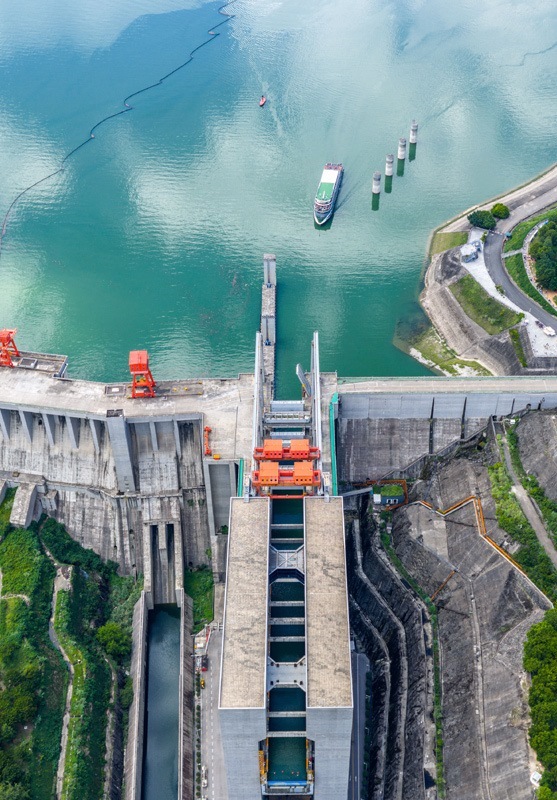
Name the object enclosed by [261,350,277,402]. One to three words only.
pier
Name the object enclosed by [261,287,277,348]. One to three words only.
pier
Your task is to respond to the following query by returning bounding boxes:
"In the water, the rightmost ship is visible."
[314,157,341,224]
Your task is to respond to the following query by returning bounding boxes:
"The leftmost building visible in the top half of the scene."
[458,239,484,263]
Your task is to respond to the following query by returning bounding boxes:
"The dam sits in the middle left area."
[0,349,210,611]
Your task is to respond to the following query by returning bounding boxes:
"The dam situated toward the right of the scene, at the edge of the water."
[337,375,557,552]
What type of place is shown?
port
